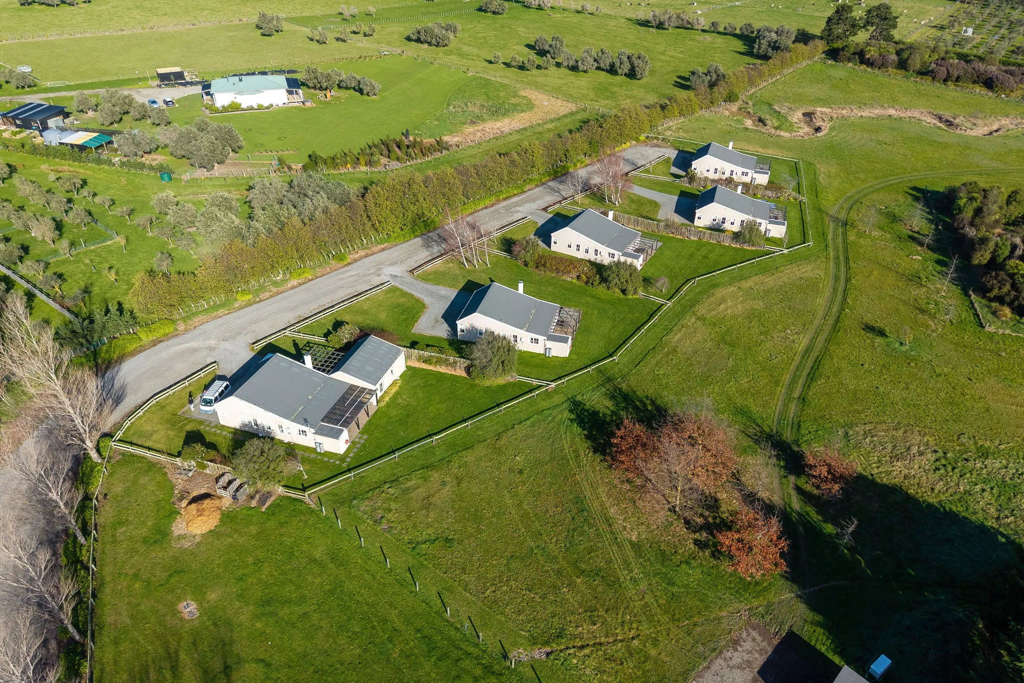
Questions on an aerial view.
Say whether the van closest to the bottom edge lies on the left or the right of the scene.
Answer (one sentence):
The van closest to the bottom edge is on the left side of the image.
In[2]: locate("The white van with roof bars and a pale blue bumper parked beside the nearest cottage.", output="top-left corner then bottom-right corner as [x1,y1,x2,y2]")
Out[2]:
[198,378,231,414]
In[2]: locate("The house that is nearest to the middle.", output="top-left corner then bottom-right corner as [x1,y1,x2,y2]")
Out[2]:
[456,277,584,357]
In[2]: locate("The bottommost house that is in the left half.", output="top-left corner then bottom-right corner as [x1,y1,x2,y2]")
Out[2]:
[213,335,405,453]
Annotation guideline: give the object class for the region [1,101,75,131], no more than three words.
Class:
shed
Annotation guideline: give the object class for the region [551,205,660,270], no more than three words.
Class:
house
